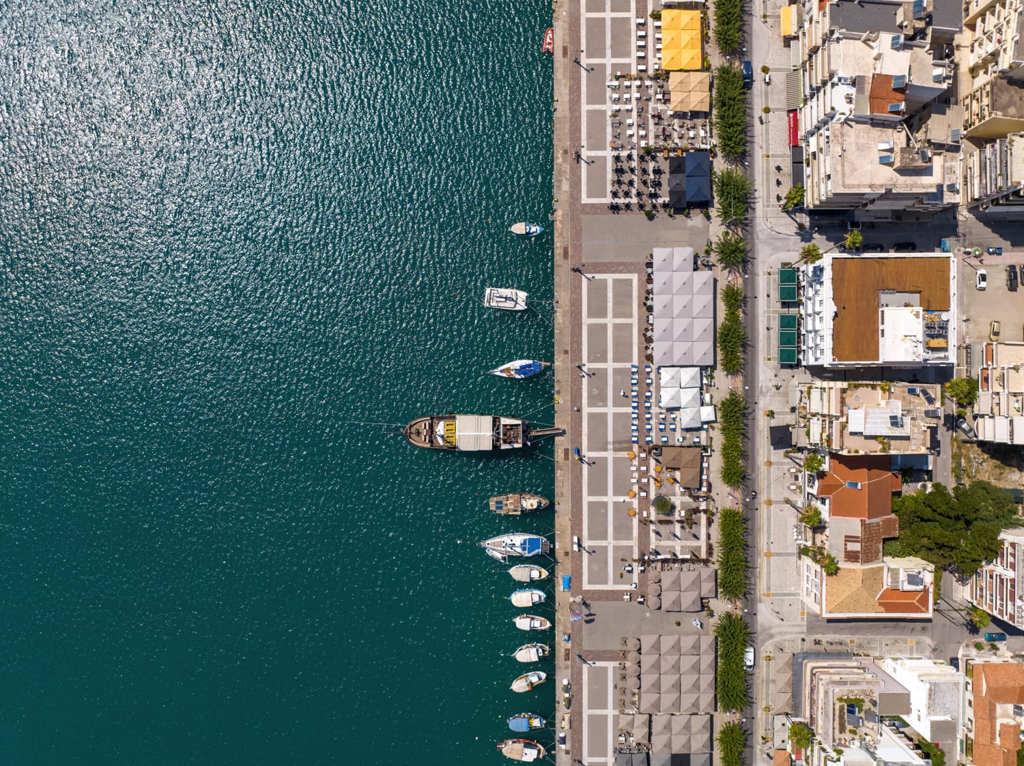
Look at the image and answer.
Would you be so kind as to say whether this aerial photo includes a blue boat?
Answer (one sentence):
Yes, a blue boat is visible in the scene.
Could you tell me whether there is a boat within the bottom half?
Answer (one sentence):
Yes, I can see a boat within the bottom half.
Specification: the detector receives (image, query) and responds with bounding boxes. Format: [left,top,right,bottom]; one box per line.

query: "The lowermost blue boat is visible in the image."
[507,714,546,736]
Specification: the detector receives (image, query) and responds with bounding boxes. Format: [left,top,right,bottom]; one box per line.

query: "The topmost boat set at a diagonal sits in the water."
[487,551,506,567]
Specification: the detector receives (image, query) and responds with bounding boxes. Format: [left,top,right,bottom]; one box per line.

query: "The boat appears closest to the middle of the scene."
[489,359,553,378]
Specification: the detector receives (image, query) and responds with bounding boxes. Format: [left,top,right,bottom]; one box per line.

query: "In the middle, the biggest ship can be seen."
[392,412,560,451]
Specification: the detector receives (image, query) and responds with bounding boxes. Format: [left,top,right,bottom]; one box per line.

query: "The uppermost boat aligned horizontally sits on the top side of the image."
[509,220,545,237]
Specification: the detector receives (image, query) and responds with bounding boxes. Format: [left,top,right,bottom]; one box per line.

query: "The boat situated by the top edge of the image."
[542,26,554,54]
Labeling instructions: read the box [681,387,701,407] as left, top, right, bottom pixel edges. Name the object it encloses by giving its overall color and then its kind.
white umbrella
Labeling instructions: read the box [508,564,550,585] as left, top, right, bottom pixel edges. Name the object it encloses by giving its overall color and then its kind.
white boat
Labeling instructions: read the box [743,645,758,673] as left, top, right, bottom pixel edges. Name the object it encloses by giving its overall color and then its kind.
white vehicle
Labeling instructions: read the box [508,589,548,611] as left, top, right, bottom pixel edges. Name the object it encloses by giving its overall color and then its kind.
white boat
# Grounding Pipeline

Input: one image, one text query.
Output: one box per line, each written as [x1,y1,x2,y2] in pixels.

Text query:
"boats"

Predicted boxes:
[489,359,553,378]
[499,740,546,766]
[509,220,545,237]
[511,673,546,696]
[507,714,546,736]
[484,287,527,309]
[513,644,550,667]
[508,564,550,585]
[508,589,548,611]
[487,551,506,567]
[513,615,552,634]
[542,26,554,54]
[482,536,553,563]
[491,495,549,519]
